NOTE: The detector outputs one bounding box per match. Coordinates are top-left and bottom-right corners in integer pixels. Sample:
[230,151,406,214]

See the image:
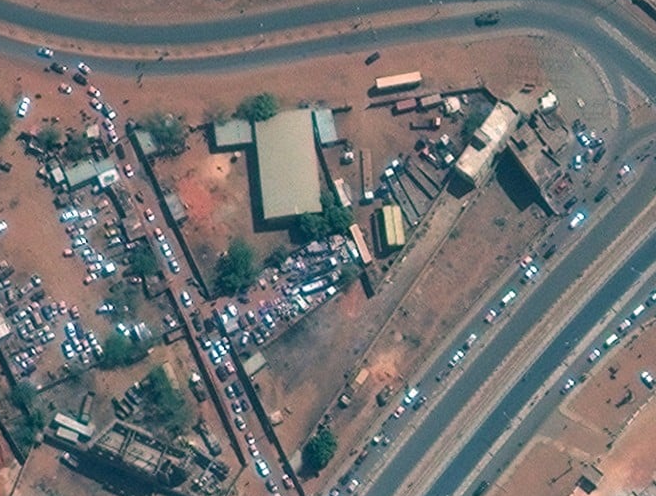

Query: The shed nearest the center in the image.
[349,223,371,264]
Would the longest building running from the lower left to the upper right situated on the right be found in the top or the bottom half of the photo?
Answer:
top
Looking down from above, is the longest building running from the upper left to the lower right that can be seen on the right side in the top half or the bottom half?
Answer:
top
